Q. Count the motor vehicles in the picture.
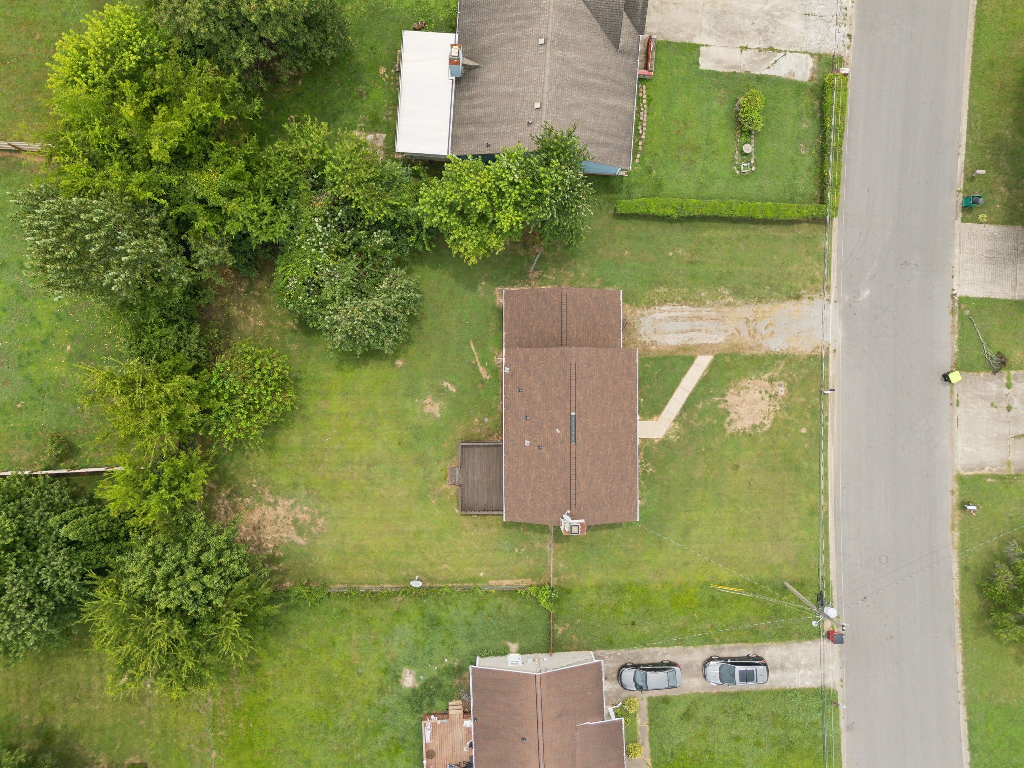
two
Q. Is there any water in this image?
No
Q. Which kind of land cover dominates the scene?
grass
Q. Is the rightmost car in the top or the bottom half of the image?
bottom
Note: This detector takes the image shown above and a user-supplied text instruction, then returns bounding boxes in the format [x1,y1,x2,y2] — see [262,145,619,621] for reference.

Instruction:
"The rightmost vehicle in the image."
[702,654,770,691]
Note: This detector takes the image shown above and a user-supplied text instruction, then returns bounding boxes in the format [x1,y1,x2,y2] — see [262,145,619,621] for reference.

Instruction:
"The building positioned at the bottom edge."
[468,651,628,768]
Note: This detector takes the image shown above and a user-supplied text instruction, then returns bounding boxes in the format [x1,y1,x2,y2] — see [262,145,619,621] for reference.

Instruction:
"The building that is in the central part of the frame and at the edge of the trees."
[501,288,641,536]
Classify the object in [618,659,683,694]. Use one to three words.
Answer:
car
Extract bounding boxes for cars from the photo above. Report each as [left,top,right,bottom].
[702,654,770,691]
[618,659,683,694]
